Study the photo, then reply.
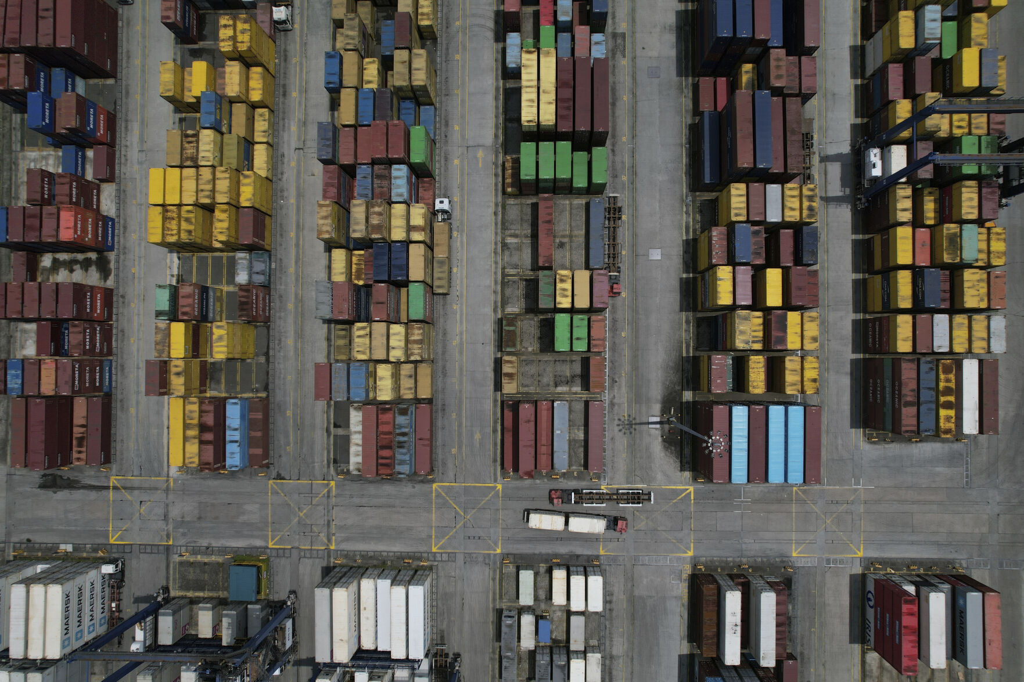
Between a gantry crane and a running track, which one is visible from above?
gantry crane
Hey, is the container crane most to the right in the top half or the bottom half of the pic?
top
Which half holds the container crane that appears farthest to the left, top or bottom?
bottom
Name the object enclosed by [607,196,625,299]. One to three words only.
vehicle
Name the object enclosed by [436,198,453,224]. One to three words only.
vehicle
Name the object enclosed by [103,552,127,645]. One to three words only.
truck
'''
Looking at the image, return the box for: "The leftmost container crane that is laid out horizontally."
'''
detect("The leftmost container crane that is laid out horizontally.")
[75,589,296,682]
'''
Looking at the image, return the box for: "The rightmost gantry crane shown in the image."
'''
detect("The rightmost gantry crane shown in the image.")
[861,96,1024,212]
